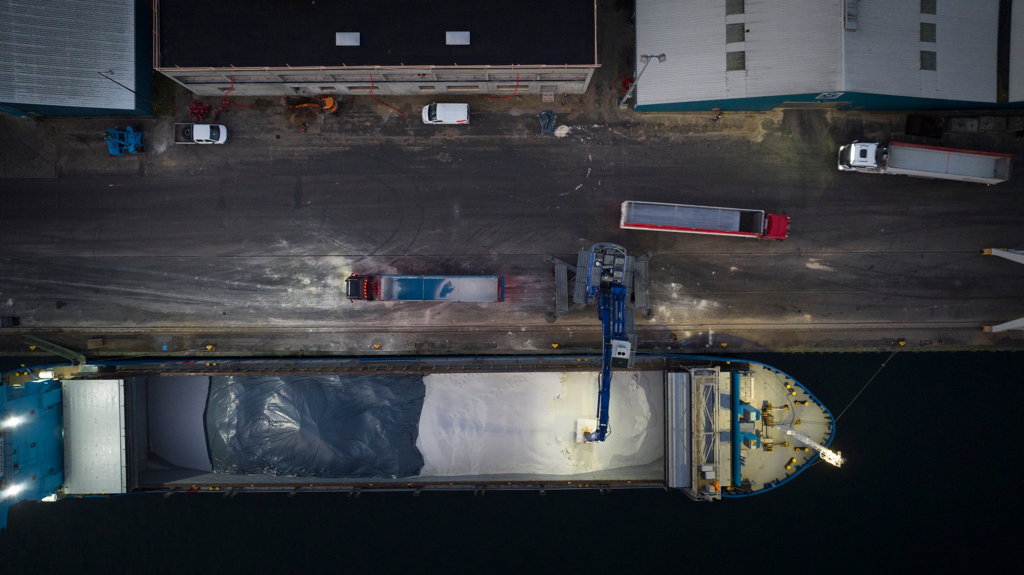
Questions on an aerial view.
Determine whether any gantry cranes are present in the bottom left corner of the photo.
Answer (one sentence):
No, no gantry crane can be made out in the bottom left corner of the photo.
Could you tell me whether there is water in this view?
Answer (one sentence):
Yes, there is water in the image.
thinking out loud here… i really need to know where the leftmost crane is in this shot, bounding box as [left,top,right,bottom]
[545,243,655,444]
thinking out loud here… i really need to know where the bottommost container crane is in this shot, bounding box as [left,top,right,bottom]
[676,364,721,501]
